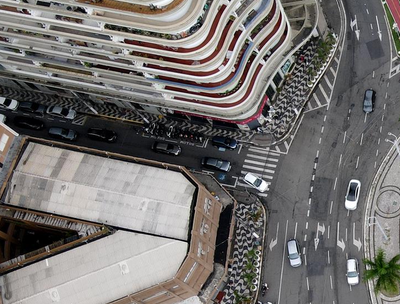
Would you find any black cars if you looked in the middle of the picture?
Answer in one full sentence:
Yes, there is a black car in the middle of the picture.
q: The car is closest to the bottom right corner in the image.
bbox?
[346,259,361,286]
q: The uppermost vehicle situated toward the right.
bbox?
[363,89,376,114]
